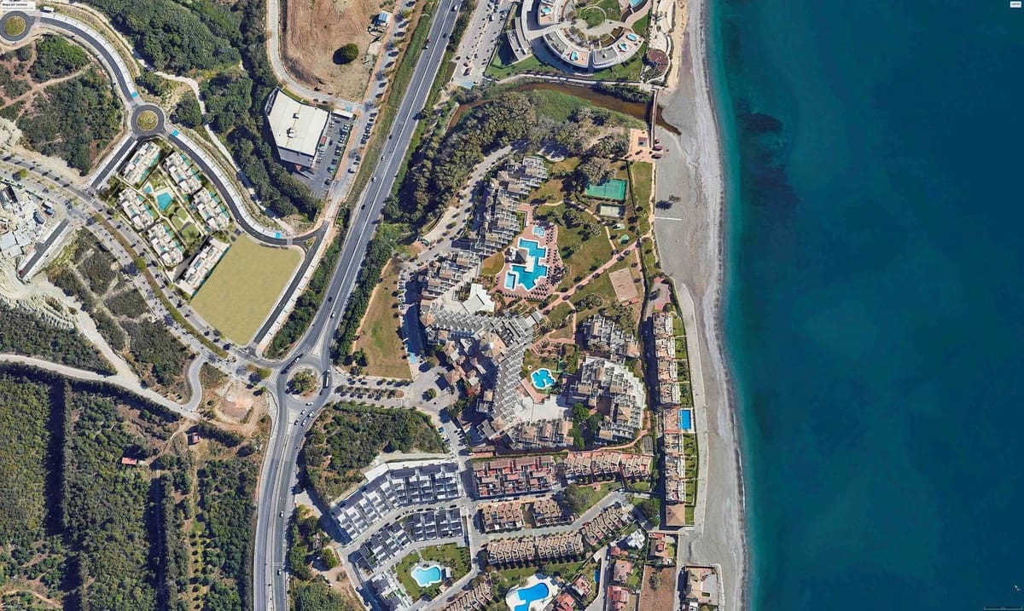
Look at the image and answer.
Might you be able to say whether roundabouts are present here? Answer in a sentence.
Yes, a roundabout is visible in the scene.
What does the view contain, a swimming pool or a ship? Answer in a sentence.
There is a swimming pool in the scene.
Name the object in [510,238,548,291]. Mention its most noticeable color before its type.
blue swimming pool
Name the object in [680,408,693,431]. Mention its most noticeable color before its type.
blue swimming pool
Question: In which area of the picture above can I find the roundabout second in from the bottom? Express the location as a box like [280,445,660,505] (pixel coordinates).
[131,103,165,137]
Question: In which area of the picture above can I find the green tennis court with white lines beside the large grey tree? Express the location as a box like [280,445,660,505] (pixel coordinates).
[586,175,626,200]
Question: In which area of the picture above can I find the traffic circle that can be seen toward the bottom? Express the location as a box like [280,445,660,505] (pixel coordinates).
[276,356,332,411]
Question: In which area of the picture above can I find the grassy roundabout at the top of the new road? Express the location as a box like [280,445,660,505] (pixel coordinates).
[0,10,31,41]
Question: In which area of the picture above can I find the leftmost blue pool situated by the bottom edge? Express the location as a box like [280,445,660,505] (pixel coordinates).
[412,564,442,588]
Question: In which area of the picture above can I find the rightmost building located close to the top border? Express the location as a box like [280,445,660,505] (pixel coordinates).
[590,25,640,67]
